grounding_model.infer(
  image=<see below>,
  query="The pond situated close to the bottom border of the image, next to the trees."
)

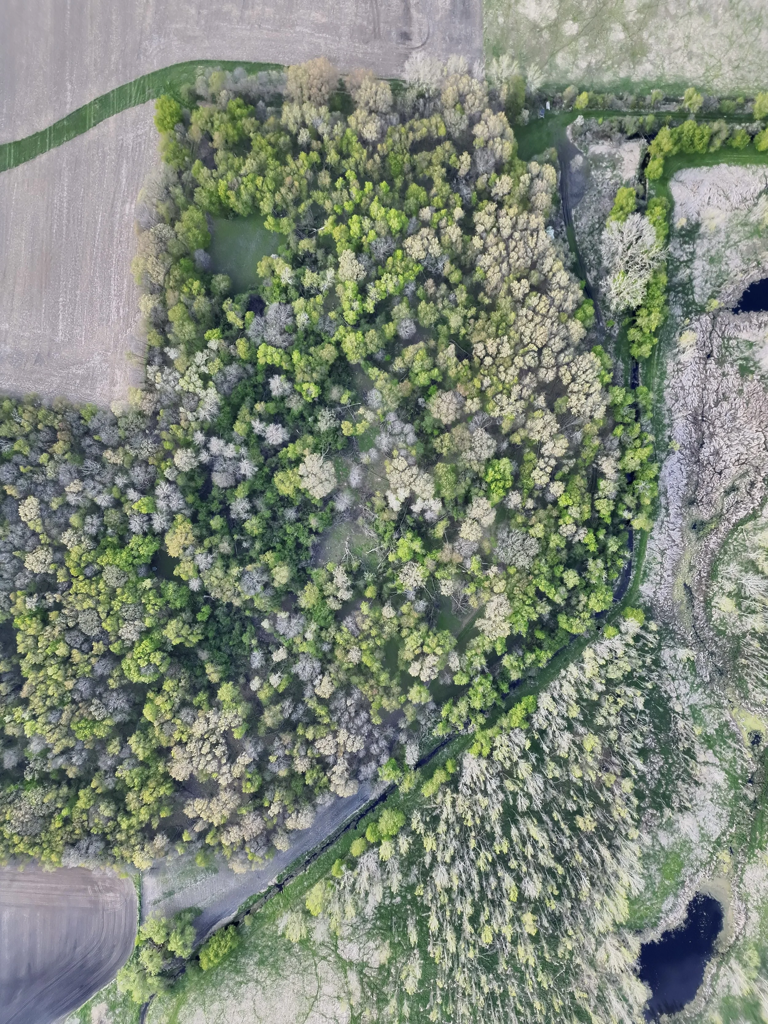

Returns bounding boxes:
[637,891,722,1024]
